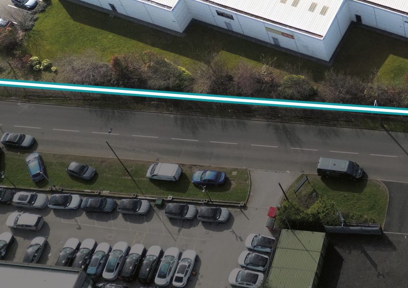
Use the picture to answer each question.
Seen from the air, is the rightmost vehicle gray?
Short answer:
Yes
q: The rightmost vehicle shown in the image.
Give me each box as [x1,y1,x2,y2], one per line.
[318,156,362,179]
